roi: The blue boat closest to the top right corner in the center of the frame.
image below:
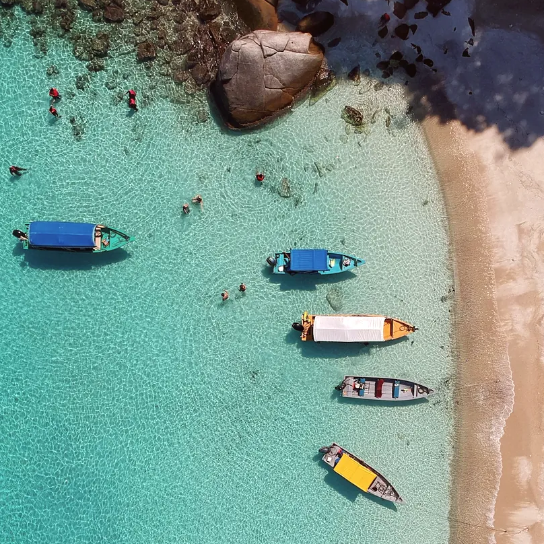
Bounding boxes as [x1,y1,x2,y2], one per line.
[264,248,365,276]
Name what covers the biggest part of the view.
water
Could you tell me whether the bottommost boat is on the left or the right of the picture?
right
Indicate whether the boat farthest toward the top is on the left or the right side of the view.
left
